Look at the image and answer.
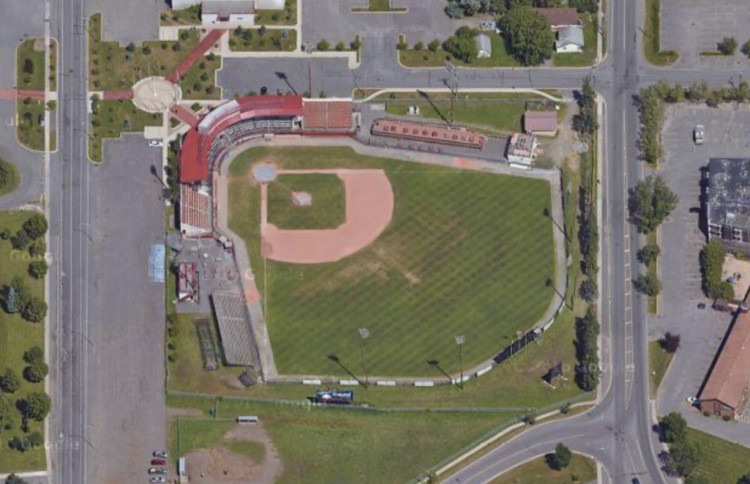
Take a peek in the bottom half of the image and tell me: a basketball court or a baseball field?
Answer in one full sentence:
There is a baseball field in the bottom half of the image.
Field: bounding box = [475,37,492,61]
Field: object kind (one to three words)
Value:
shed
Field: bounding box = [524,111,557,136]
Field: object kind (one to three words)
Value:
building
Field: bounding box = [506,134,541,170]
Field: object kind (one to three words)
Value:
building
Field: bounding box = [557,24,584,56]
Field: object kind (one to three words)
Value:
house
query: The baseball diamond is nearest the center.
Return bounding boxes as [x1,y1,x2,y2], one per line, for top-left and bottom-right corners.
[212,136,568,381]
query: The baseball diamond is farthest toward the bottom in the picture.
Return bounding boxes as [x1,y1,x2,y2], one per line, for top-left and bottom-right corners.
[179,409,521,484]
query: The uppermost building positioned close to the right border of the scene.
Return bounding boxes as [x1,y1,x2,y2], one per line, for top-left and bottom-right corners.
[705,158,750,239]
